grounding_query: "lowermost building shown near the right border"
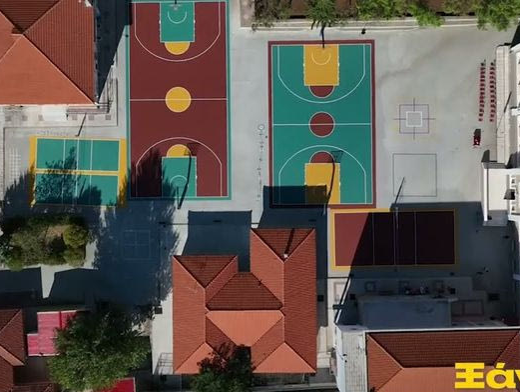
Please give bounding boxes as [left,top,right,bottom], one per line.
[335,311,520,392]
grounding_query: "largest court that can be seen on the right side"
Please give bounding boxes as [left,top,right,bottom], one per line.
[268,40,377,209]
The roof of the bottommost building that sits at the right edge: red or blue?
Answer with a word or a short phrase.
red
